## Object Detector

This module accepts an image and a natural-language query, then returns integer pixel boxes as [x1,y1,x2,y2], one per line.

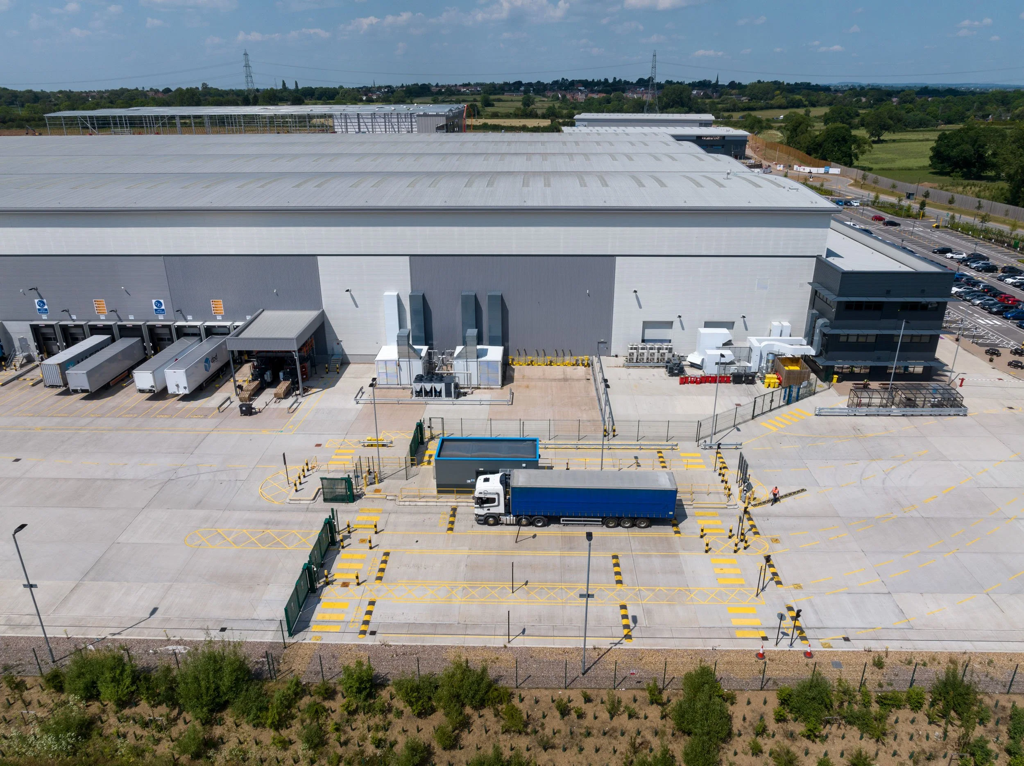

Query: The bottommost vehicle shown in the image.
[472,470,677,527]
